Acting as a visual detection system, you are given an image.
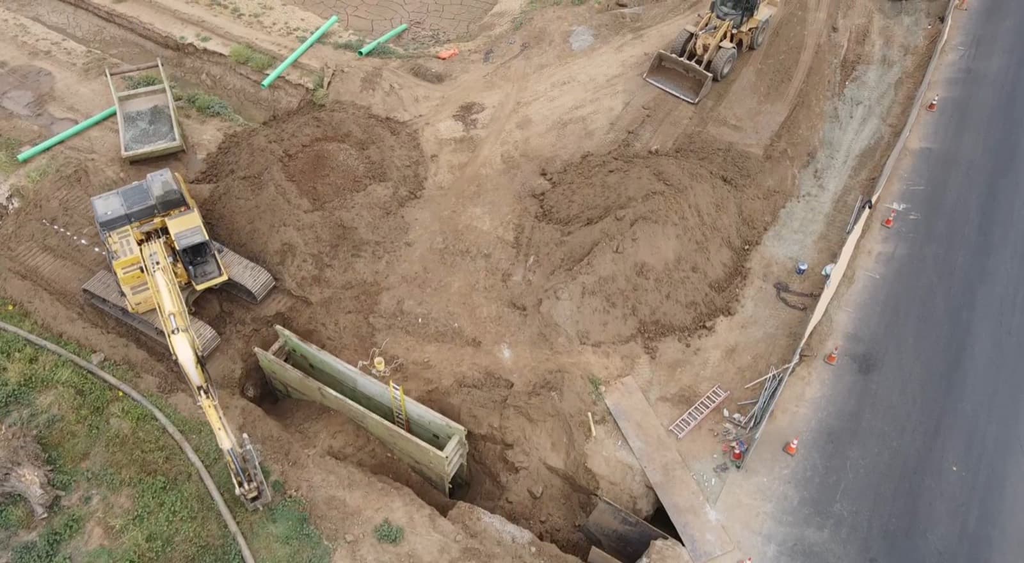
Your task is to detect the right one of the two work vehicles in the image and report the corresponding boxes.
[643,0,789,105]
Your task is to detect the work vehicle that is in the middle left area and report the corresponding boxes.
[77,170,280,508]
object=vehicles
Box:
[643,0,789,105]
[77,170,280,508]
